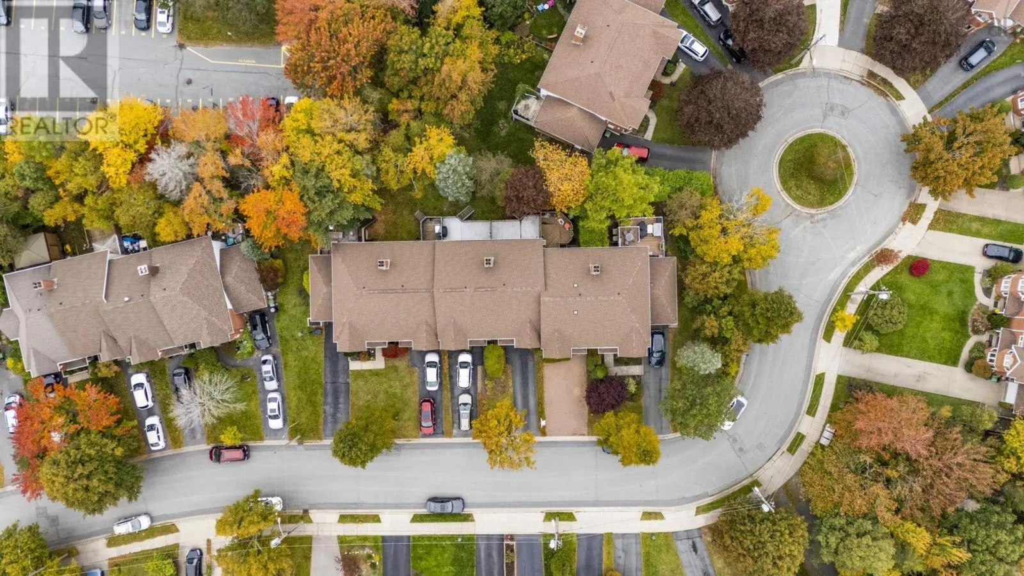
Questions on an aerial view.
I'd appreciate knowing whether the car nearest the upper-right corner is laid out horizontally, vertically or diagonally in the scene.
diagonally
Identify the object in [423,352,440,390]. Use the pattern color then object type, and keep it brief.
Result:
white car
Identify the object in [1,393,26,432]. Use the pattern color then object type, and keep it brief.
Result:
white car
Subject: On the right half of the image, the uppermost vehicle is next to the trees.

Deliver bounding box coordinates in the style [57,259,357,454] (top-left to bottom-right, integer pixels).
[687,0,722,29]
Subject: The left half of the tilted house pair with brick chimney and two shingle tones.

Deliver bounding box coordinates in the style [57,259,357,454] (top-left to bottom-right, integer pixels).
[0,249,123,378]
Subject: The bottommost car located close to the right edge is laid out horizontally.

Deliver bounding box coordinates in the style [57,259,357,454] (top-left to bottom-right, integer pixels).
[981,244,1021,263]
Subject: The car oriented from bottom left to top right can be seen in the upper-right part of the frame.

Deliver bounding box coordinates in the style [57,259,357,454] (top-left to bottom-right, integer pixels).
[959,38,995,72]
